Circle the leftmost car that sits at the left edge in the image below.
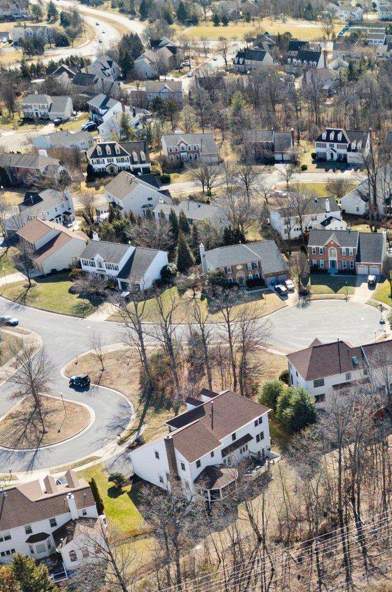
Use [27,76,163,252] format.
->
[0,315,19,327]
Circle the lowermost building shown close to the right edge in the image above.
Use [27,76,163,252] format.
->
[289,325,392,414]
